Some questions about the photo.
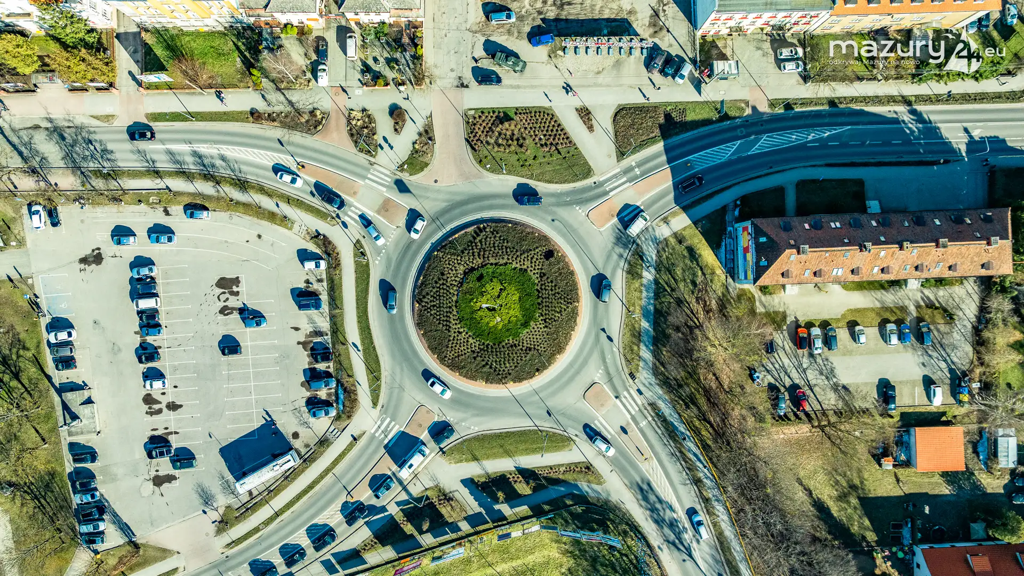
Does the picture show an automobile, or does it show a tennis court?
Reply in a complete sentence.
This aerial view contains an automobile.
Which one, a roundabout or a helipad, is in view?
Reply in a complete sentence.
There is a roundabout in the scene.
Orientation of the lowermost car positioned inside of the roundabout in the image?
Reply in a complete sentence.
I'd say the lowermost car positioned inside of the roundabout is aligned at an angle in the picture.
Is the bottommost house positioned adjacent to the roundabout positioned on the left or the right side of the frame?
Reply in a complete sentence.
The bottommost house positioned adjacent to the roundabout is on the right side of the image.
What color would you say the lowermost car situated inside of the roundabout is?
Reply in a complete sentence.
The lowermost car situated inside of the roundabout is white.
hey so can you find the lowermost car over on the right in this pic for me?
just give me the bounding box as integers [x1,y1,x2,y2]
[690,511,710,540]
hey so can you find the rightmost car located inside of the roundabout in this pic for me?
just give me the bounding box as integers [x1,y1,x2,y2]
[599,280,611,304]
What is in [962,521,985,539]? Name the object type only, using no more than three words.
gazebo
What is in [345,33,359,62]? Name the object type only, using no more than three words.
vehicle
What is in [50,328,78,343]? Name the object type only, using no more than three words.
car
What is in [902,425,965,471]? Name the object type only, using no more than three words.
building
